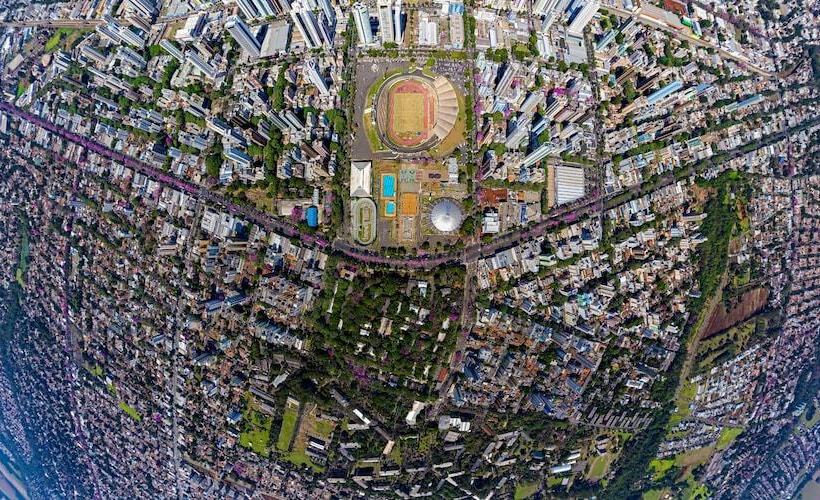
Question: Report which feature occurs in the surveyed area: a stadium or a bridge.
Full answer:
Looking from above, you can make out a stadium.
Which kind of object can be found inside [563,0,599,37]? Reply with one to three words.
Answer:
building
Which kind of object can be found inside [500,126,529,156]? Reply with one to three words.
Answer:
building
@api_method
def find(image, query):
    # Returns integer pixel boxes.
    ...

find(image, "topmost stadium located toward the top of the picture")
[363,62,460,154]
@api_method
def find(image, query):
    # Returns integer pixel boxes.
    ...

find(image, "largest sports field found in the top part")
[395,93,425,135]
